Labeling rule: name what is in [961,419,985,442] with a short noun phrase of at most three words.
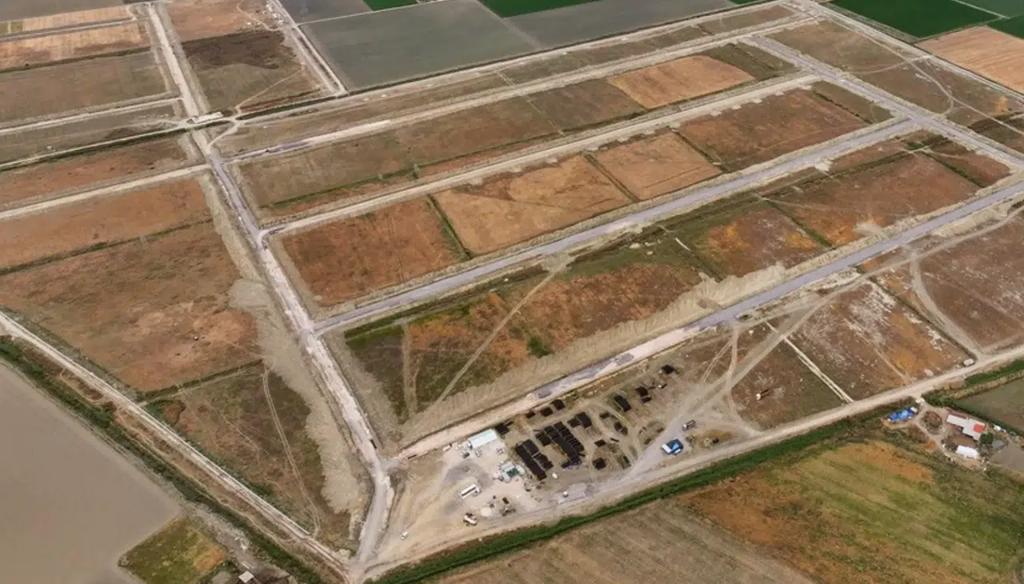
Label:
house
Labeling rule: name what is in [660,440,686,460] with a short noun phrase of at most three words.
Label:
building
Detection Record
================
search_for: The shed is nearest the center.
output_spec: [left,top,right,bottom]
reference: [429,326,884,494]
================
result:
[468,429,498,451]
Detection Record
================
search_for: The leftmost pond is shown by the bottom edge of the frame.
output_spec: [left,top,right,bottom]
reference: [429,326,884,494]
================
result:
[0,360,181,584]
